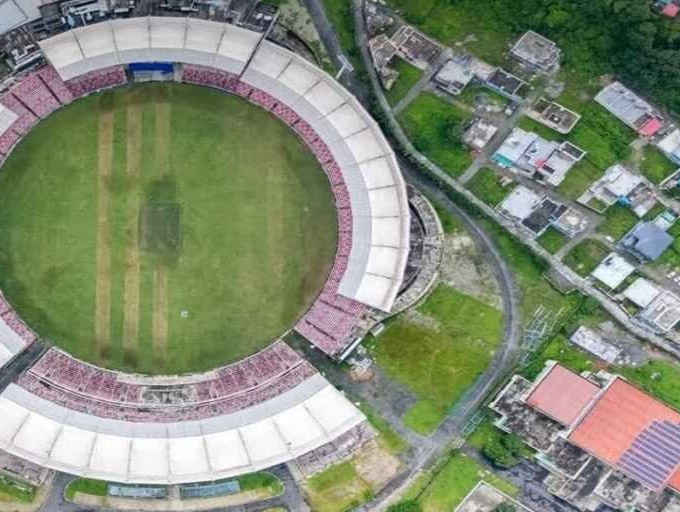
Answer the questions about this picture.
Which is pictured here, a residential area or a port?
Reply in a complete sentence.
The picture captures a residential area.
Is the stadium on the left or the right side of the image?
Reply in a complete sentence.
It is on the left.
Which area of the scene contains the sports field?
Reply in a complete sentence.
You can find the sports field in the left area of the picture.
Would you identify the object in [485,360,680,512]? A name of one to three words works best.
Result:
building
